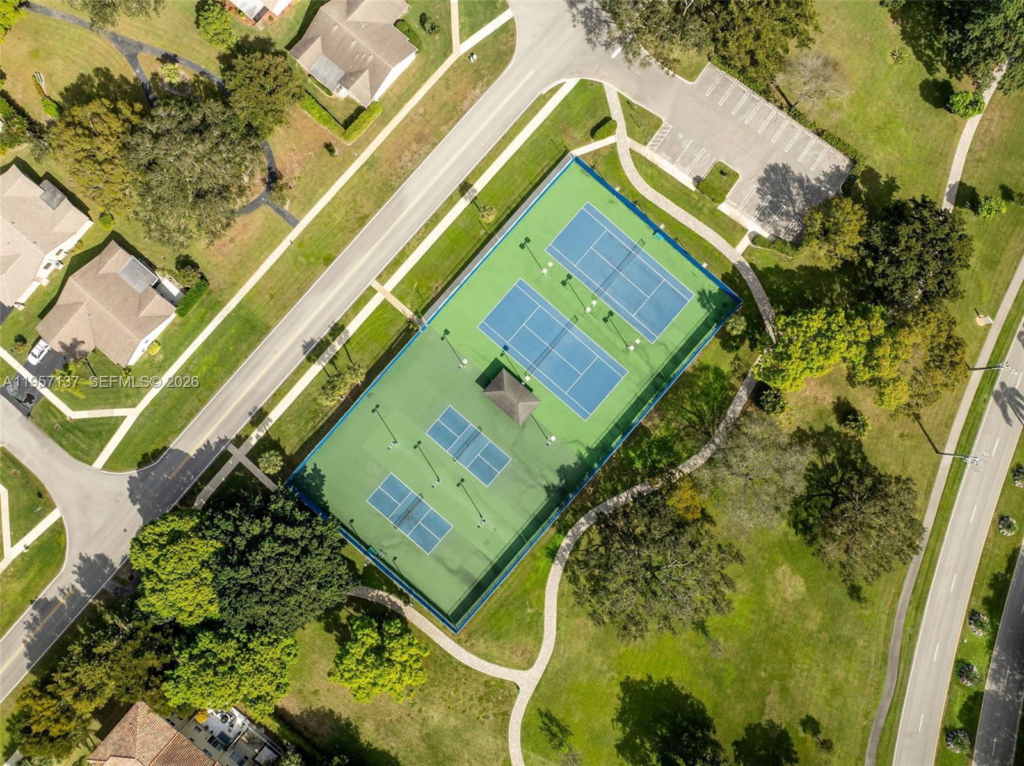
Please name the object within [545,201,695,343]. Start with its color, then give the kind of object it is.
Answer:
blue tennis court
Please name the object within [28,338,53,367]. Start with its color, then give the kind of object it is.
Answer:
white car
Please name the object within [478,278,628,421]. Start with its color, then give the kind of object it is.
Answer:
blue tennis court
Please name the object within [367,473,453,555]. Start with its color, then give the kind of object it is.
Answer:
blue sports court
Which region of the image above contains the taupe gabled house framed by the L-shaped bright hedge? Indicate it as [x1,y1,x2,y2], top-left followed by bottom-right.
[291,0,418,108]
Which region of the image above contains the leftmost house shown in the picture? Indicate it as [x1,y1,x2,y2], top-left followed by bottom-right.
[0,164,96,306]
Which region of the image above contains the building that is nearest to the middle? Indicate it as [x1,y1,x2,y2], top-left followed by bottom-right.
[483,368,541,425]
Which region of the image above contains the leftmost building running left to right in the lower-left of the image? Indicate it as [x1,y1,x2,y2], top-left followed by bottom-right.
[89,694,252,766]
